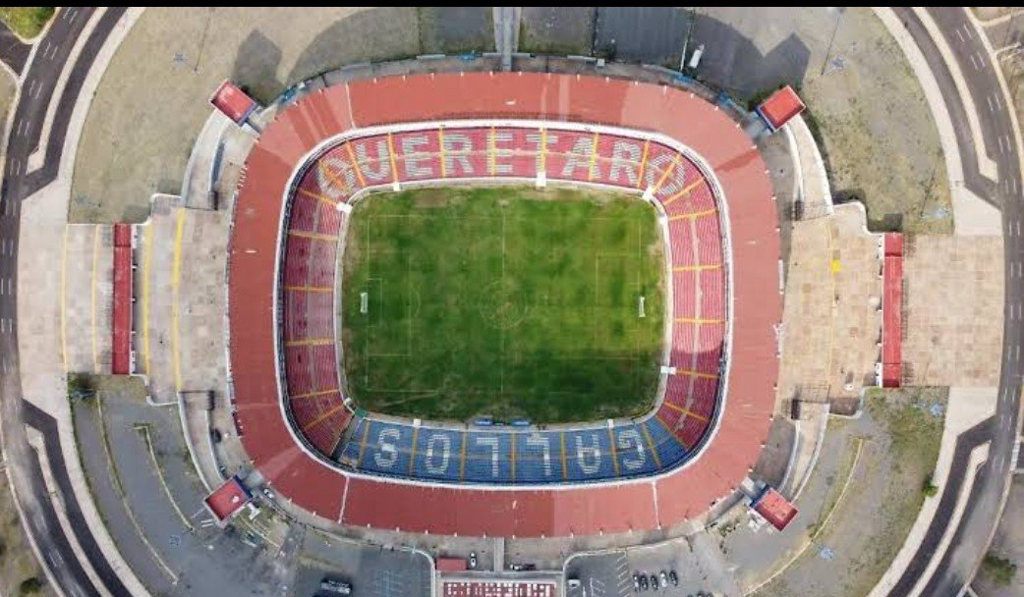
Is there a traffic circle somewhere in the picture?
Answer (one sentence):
No, no traffic circle is visible in the scene.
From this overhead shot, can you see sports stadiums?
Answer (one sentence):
Yes, the picture does show a sports stadium.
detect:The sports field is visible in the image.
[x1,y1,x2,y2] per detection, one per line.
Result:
[337,179,671,430]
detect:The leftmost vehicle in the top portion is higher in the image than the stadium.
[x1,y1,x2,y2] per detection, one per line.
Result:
[688,47,701,67]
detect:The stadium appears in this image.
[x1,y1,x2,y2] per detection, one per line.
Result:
[225,69,786,540]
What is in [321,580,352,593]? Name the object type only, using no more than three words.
vehicle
